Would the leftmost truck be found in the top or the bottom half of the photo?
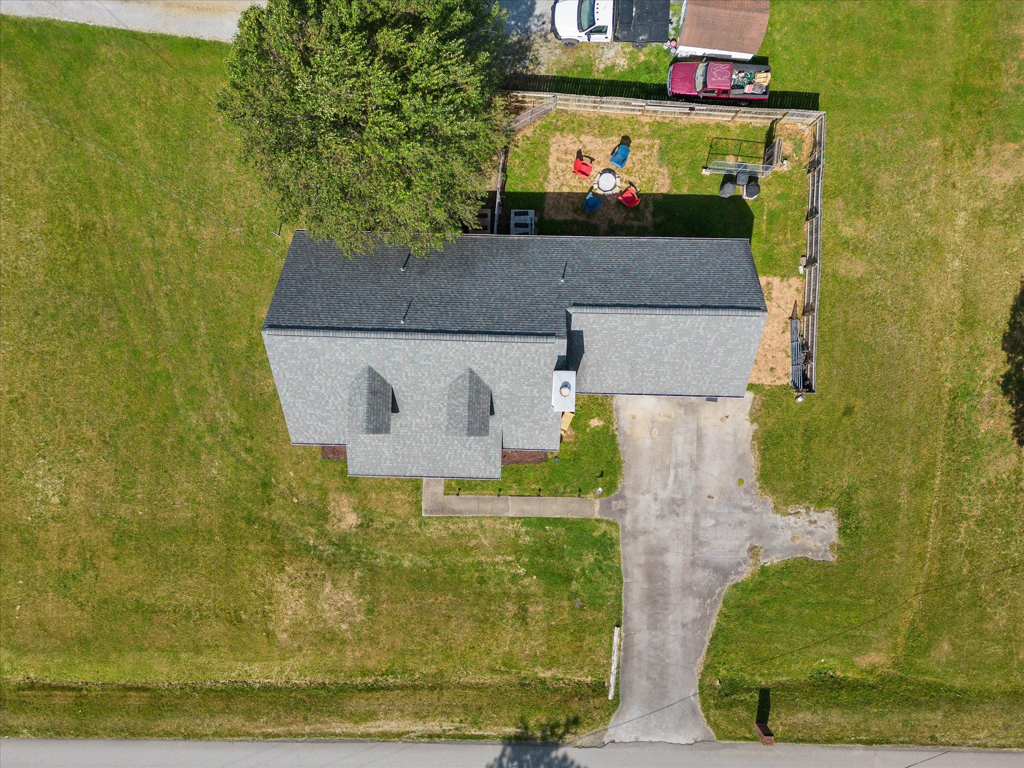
top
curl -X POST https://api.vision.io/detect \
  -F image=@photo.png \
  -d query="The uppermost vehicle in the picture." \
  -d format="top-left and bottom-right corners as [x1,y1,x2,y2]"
[548,0,670,51]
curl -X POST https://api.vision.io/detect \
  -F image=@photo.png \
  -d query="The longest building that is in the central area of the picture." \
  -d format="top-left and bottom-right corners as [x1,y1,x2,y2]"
[263,228,768,481]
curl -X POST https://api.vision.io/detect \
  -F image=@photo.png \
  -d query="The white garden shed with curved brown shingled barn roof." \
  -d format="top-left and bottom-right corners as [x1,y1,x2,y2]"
[675,0,774,61]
